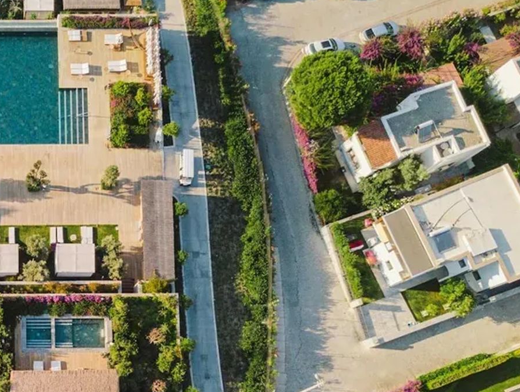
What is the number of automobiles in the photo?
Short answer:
2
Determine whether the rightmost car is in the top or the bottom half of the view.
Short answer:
top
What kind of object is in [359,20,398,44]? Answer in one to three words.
car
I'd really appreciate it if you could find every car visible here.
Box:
[303,36,341,57]
[359,20,398,44]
